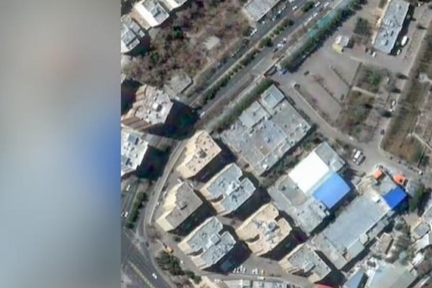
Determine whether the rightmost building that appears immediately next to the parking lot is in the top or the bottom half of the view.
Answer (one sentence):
Seen from above, the rightmost building that appears immediately next to the parking lot lies in the top half of the view.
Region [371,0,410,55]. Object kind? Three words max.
building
